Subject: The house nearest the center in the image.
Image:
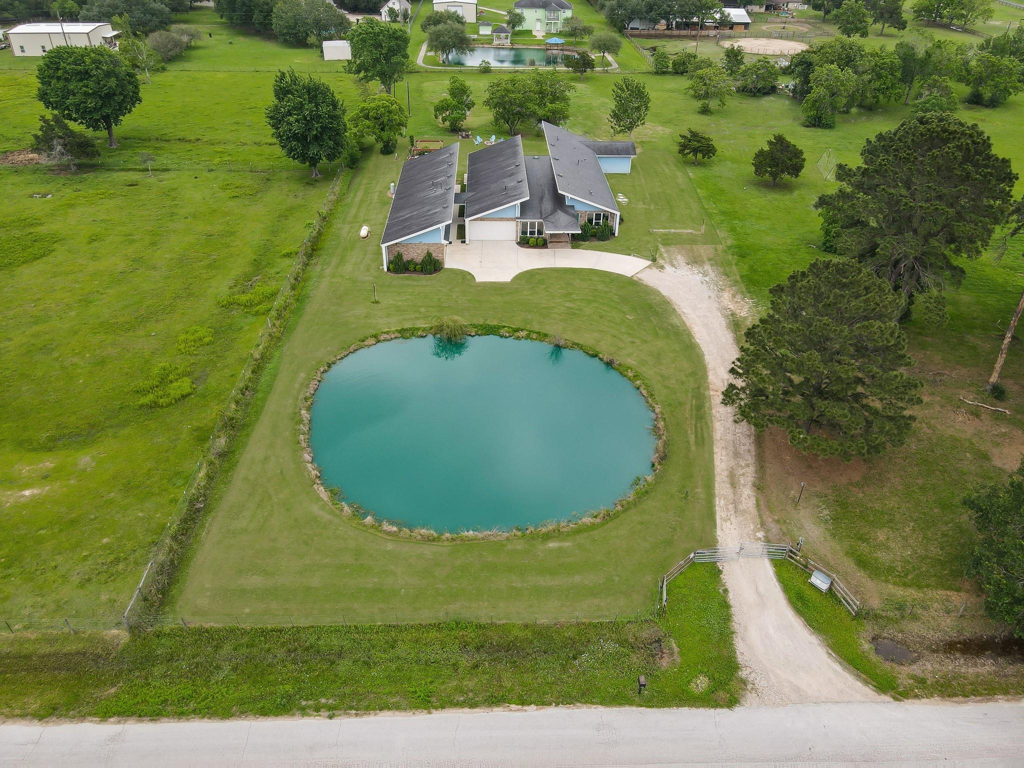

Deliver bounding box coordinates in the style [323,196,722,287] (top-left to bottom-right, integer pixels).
[380,121,637,268]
